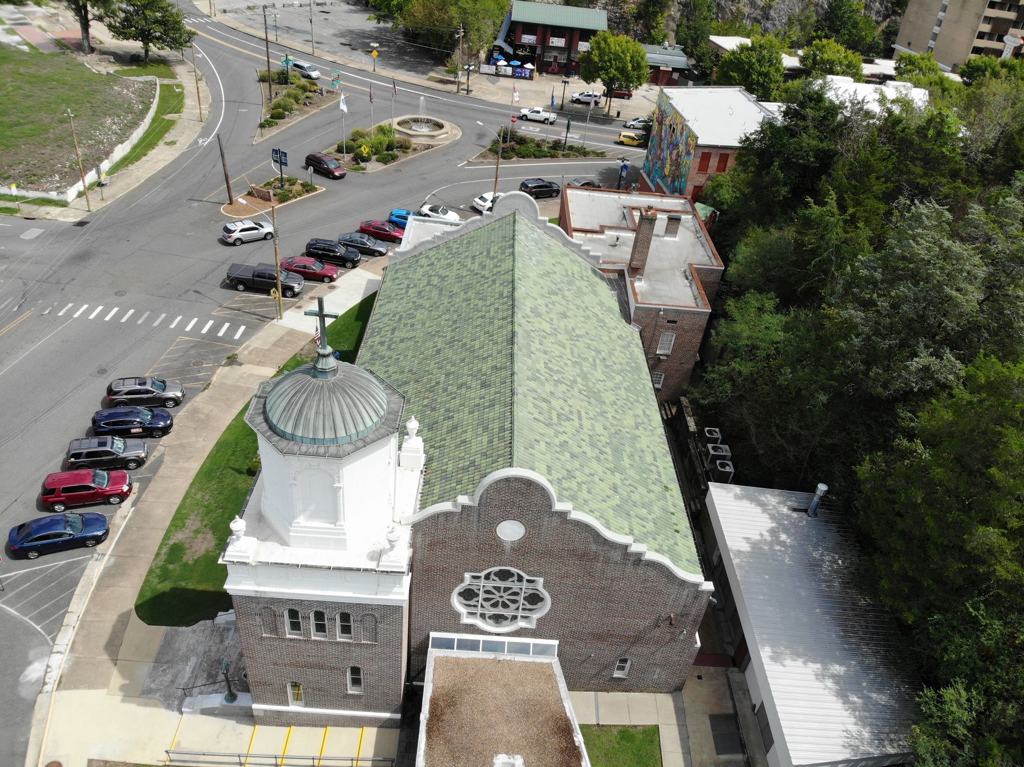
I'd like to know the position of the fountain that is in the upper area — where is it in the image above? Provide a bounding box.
[389,92,454,142]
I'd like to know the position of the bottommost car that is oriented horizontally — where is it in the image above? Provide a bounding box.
[2,509,112,561]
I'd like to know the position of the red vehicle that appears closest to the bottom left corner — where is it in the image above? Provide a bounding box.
[34,466,134,513]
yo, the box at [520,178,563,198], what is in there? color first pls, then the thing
black car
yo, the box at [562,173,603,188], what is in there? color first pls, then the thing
gray car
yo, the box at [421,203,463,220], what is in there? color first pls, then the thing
white car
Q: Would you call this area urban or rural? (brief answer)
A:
urban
